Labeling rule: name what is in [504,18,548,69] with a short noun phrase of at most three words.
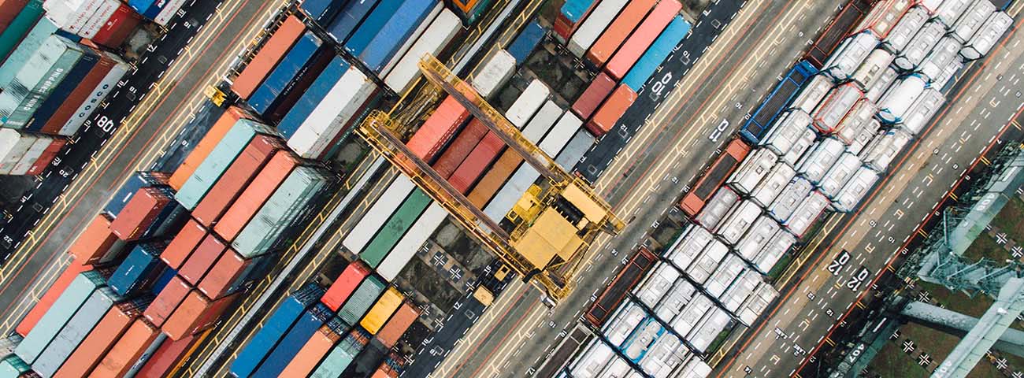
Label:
shipping container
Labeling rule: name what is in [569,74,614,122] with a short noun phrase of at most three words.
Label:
shipping container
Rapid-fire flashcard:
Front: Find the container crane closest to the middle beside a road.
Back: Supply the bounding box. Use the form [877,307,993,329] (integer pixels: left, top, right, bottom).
[353,48,624,301]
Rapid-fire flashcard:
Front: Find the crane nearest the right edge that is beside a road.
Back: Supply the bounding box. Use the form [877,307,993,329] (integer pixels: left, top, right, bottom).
[921,123,1024,284]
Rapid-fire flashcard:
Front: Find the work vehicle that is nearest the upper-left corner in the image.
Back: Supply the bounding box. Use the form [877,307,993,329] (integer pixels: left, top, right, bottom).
[198,81,241,115]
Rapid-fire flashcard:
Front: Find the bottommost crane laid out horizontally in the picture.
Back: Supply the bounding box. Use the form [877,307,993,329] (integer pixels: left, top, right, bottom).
[805,278,1024,378]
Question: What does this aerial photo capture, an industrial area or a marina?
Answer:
industrial area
